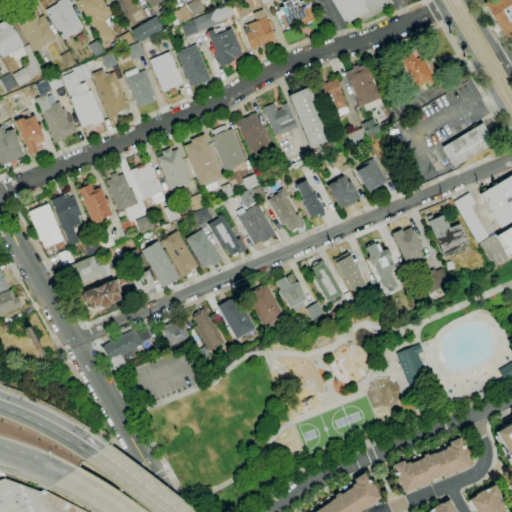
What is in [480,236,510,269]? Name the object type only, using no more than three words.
building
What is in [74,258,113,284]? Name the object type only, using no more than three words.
house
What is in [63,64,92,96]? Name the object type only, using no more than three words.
house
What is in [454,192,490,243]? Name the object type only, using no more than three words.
building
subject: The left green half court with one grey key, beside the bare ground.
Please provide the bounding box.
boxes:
[297,414,332,450]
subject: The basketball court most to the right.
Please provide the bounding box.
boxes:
[322,396,376,439]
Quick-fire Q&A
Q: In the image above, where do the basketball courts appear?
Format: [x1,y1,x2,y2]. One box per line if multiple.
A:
[297,414,332,450]
[322,396,376,439]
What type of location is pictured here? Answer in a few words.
residential area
